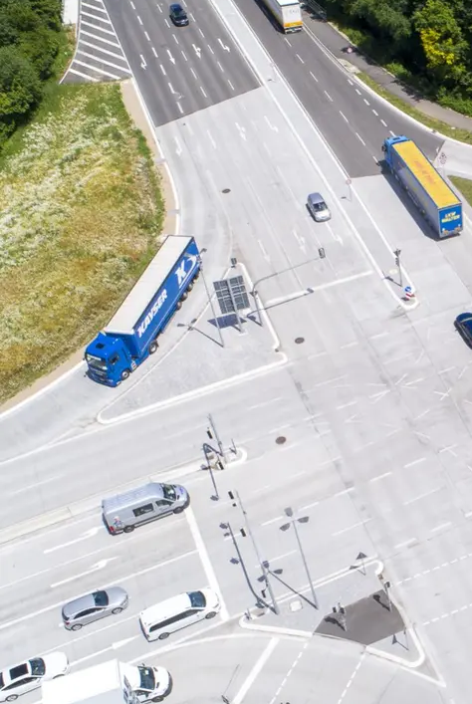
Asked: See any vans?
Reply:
Yes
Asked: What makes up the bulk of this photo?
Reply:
paved ground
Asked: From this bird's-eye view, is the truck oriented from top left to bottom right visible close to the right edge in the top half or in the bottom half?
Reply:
top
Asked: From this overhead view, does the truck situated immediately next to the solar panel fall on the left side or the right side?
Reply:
left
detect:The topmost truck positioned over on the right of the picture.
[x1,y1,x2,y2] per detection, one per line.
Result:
[264,0,304,32]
